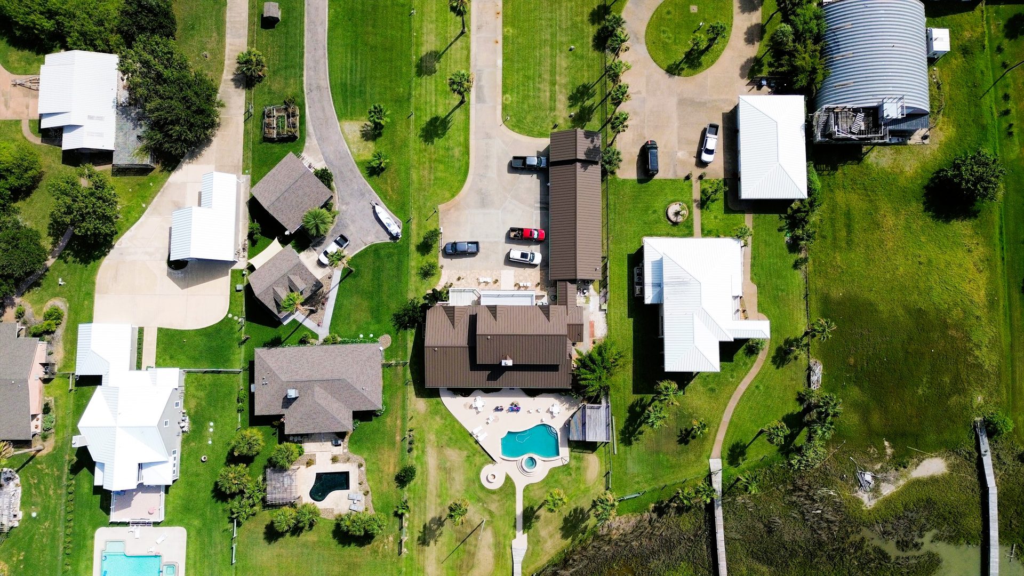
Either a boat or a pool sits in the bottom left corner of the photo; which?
pool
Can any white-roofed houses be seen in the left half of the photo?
Yes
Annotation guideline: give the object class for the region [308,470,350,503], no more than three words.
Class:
swimming pool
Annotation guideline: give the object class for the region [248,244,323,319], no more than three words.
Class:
house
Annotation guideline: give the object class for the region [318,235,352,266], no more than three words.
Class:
truck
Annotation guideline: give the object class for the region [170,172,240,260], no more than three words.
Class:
building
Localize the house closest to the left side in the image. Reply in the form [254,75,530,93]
[0,322,48,439]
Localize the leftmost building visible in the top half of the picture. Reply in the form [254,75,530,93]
[38,50,125,150]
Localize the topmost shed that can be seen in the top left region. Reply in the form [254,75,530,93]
[264,2,282,21]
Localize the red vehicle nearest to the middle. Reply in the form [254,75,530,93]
[509,227,546,242]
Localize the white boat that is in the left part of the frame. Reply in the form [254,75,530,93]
[373,206,402,239]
